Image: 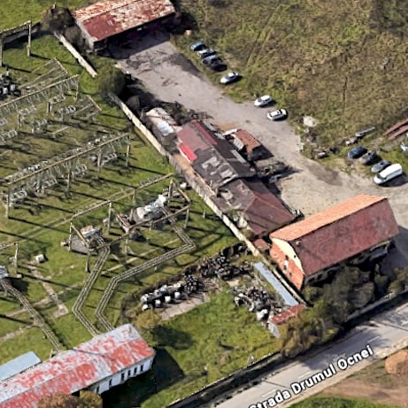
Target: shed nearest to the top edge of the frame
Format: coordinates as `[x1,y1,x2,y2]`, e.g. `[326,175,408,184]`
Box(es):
[73,0,175,54]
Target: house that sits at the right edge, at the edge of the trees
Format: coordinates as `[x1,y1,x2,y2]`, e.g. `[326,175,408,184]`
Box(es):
[269,195,399,288]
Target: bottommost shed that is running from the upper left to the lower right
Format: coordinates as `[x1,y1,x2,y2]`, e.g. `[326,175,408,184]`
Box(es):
[253,263,298,314]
